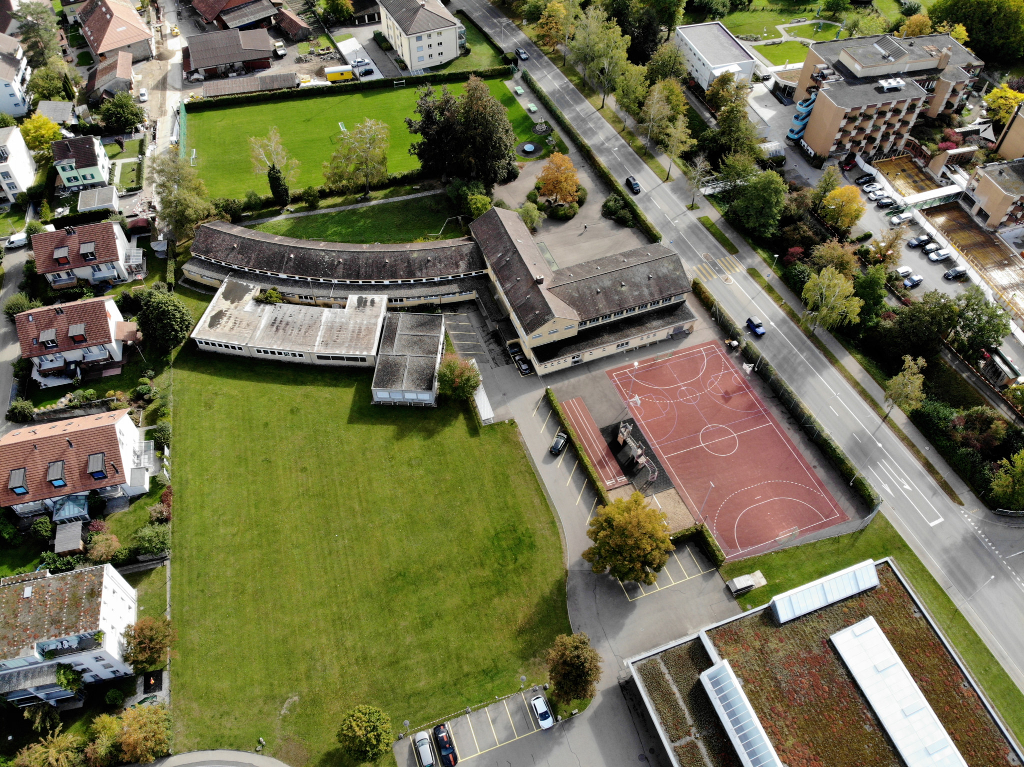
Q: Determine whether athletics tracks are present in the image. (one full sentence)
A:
Yes, there's an athletics track down there.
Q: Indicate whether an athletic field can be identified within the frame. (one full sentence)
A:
Yes, there is an athletic field in the image.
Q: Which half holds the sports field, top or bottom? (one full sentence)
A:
You can find the sports field in the top half.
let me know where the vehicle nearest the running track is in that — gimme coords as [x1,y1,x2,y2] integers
[549,431,567,454]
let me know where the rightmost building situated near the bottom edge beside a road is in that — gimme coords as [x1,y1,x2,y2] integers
[618,554,1024,767]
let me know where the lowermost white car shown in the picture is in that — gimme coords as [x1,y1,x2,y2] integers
[416,730,436,767]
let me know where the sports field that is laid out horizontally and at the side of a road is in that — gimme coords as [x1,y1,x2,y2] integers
[184,76,568,202]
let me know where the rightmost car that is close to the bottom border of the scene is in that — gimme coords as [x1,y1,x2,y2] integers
[531,697,553,733]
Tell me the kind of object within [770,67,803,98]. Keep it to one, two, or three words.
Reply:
building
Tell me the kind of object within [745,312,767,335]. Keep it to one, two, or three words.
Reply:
car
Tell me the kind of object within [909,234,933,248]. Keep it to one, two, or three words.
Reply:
car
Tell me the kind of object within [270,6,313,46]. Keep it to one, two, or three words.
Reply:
barn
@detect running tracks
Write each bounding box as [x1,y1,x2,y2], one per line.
[560,397,629,490]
